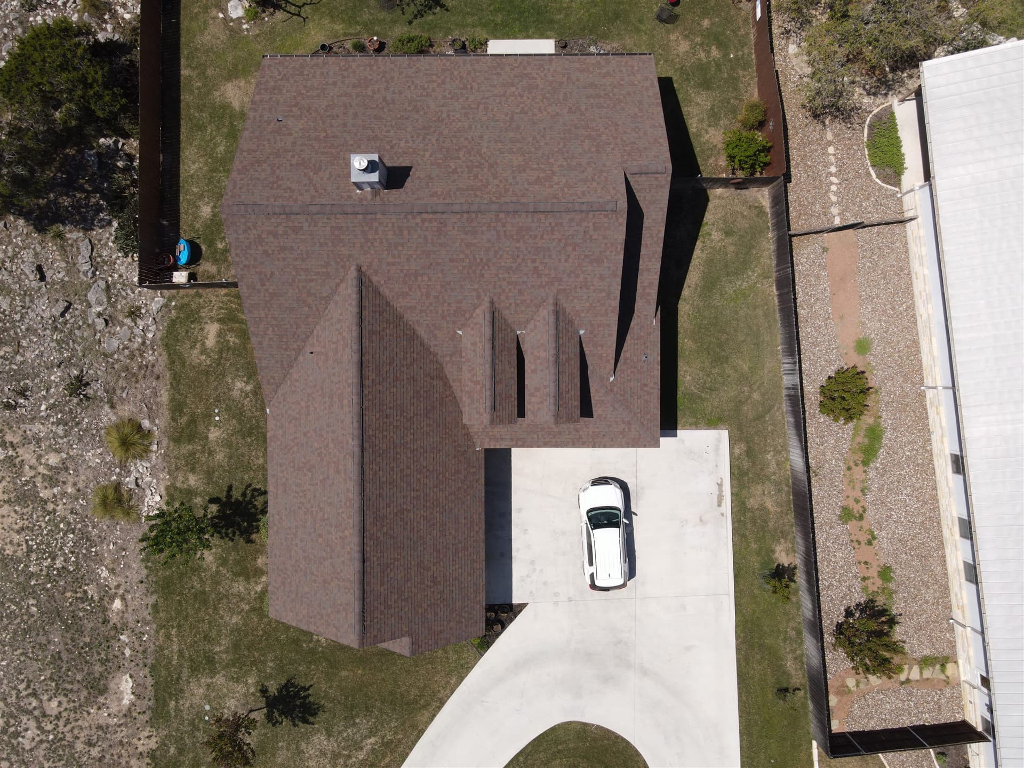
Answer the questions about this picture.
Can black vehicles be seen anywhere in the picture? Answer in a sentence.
No, there is no black vehicle in the image.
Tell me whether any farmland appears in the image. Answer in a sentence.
No, the scene doesn't show any farmland.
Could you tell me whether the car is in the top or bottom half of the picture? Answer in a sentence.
The car sits in the bottom half of the picture.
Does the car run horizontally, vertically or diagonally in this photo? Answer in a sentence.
I'd say the car is aligned vertically in the picture.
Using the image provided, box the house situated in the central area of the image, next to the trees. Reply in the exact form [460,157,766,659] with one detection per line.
[221,52,671,657]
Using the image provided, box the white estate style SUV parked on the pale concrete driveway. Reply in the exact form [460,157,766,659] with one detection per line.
[577,479,632,593]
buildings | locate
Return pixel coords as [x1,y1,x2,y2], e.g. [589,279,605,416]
[221,52,671,657]
[891,38,1024,768]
